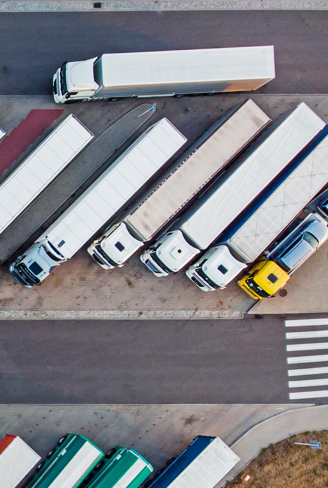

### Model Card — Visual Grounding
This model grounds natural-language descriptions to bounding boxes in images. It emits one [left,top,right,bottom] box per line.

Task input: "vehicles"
[184,126,328,290]
[84,448,151,488]
[140,102,326,276]
[51,47,275,101]
[142,434,239,488]
[272,222,327,276]
[0,114,93,233]
[0,433,41,488]
[28,433,104,488]
[239,188,328,299]
[86,98,271,269]
[11,119,187,287]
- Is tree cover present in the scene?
No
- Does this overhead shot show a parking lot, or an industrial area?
parking lot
